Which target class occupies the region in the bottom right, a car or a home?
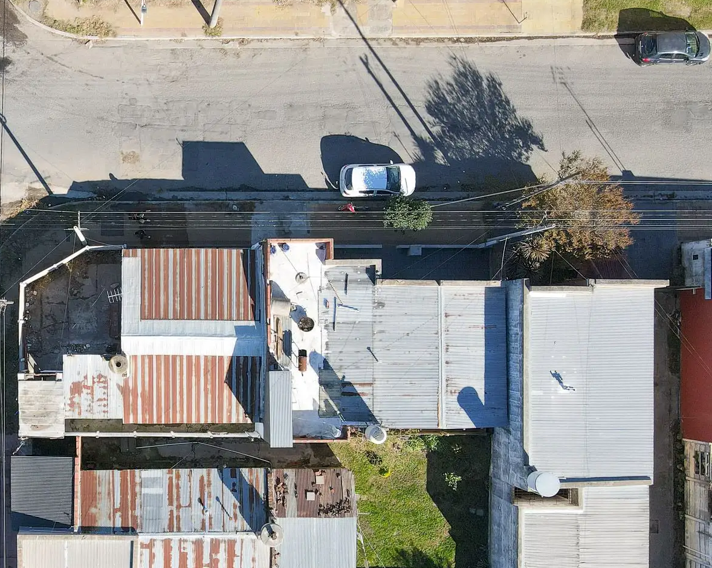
home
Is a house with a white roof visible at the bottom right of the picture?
Yes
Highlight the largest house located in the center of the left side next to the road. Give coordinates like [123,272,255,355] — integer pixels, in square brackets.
[63,245,264,441]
